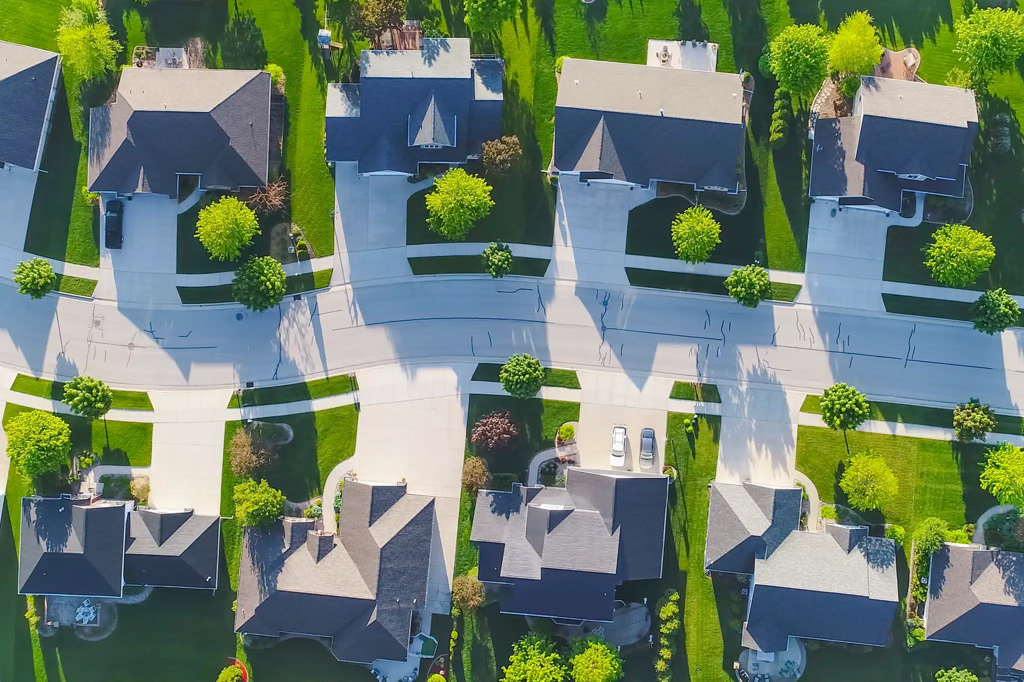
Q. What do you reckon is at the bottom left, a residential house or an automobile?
residential house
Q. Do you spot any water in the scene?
No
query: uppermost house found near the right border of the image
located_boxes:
[805,75,979,214]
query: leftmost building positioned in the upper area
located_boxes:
[0,40,63,171]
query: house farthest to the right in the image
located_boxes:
[918,541,1024,667]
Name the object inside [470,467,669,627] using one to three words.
house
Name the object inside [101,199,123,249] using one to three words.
truck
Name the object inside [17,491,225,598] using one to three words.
house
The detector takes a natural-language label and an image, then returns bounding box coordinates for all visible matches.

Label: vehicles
[638,428,657,469]
[101,199,123,249]
[609,425,629,468]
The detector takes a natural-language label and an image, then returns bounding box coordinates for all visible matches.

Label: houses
[234,479,436,665]
[87,68,276,201]
[702,480,899,653]
[0,40,63,171]
[17,491,225,598]
[918,541,1024,667]
[554,58,745,196]
[805,75,979,214]
[470,467,669,627]
[325,37,504,177]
